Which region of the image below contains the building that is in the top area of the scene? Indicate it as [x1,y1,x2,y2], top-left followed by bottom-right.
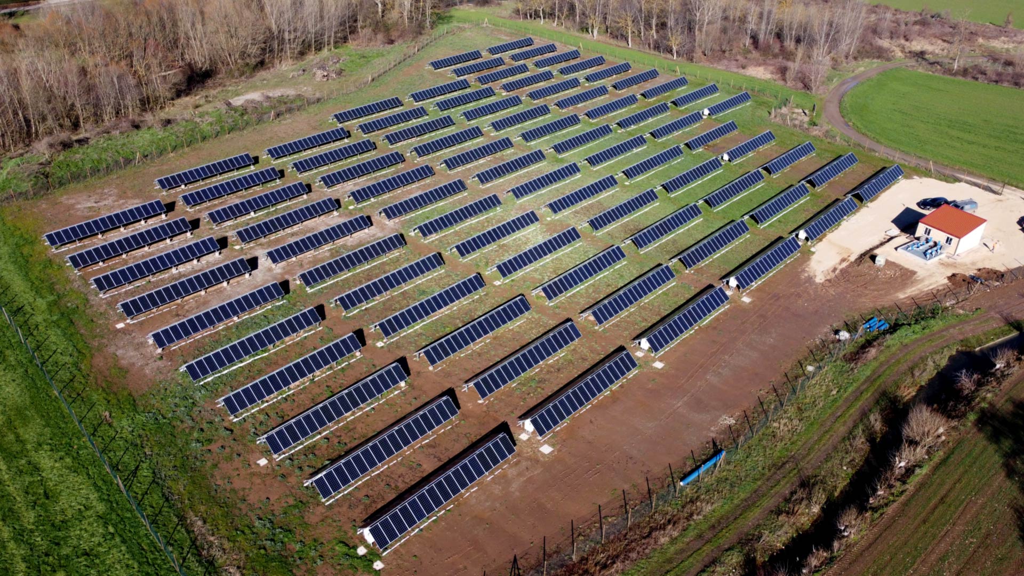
[915,202,991,255]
